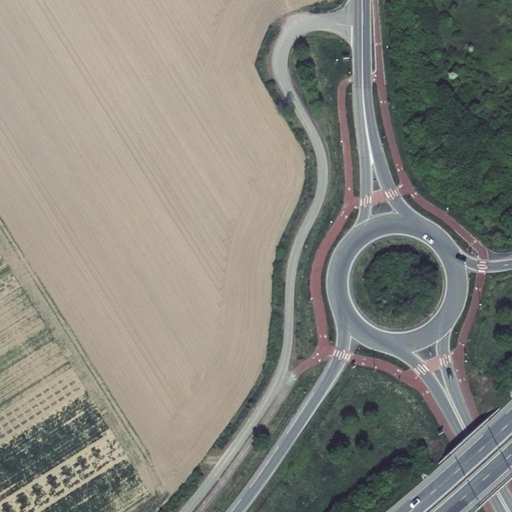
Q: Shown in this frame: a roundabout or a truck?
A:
roundabout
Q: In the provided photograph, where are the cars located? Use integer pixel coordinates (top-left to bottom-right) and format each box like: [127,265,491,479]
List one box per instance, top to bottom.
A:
[423,234,434,243]
[455,254,466,260]
[446,368,453,379]
[410,496,420,506]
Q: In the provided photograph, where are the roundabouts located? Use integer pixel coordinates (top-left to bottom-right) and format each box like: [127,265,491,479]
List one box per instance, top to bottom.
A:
[326,196,468,368]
